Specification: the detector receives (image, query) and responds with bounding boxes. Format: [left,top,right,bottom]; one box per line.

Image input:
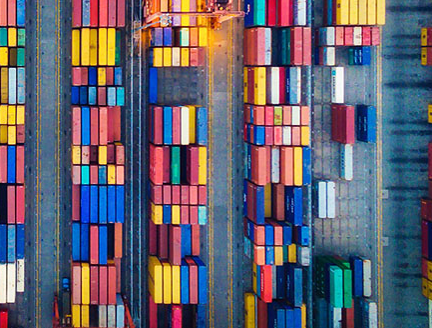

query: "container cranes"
[54,293,137,328]
[142,0,245,26]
